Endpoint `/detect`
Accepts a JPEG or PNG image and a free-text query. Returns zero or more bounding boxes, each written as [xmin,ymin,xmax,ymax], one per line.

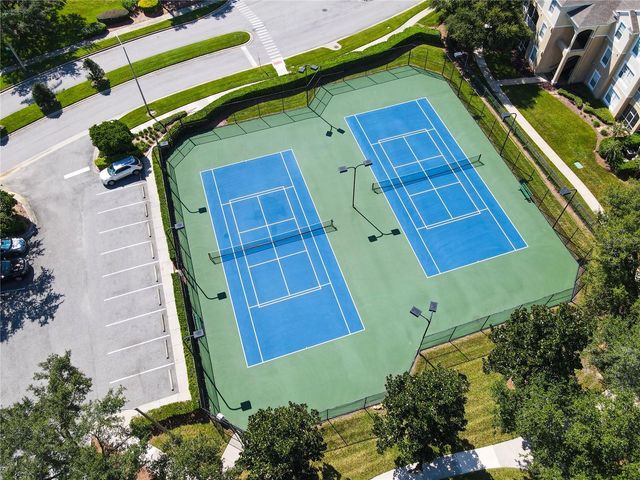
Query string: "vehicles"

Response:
[0,236,26,259]
[99,156,143,184]
[0,261,25,284]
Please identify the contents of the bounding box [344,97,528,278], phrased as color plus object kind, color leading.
blue tennis court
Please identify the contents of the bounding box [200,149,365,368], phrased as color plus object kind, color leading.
blue tennis court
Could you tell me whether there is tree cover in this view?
Yes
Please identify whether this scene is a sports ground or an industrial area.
sports ground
